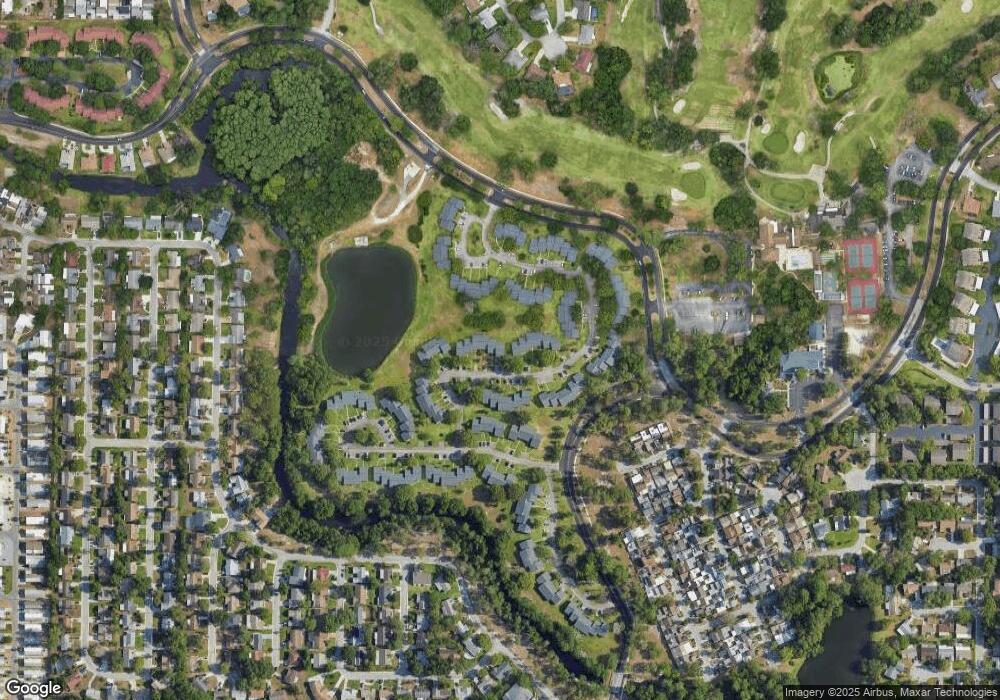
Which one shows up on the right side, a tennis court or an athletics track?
tennis court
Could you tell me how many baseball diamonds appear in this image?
0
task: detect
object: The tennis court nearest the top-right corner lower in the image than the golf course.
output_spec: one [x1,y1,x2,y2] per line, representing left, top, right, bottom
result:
[845,238,877,273]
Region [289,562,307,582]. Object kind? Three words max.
house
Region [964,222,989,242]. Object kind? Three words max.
house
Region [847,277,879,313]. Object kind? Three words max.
tennis court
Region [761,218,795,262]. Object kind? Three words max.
building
